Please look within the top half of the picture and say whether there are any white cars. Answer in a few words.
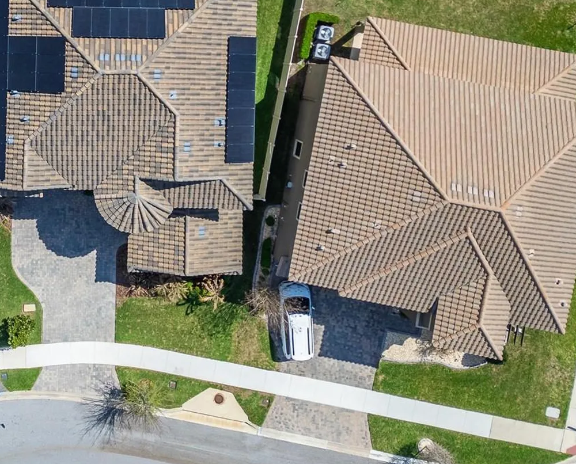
No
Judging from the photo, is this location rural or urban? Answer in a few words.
urban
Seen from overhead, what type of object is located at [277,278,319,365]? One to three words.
car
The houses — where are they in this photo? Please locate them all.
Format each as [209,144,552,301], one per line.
[274,16,576,363]
[0,0,257,277]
